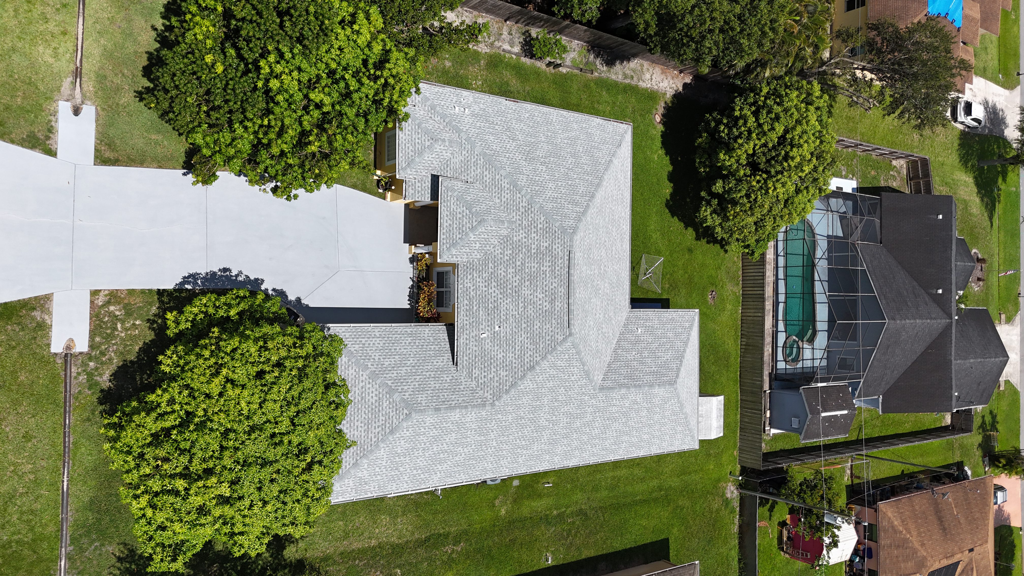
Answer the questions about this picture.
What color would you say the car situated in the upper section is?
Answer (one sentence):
The car situated in the upper section looks white in the image.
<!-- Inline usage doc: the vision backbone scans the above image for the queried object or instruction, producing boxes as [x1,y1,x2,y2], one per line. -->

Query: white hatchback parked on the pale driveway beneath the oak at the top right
[955,95,990,124]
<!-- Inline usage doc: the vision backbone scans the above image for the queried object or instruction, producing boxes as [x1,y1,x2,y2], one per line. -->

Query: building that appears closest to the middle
[326,79,700,507]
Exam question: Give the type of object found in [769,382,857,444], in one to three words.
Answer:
shed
